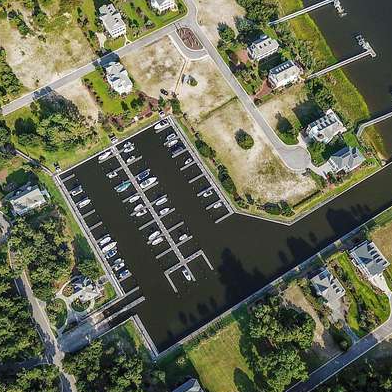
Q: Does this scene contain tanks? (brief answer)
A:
No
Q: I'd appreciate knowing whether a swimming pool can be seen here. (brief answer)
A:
No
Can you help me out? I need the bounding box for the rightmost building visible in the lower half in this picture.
[345,238,387,275]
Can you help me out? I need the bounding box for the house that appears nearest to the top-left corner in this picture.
[98,1,129,43]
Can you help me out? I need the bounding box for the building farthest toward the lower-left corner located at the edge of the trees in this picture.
[70,272,109,304]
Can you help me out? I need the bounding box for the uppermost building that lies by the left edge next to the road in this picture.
[3,182,51,216]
